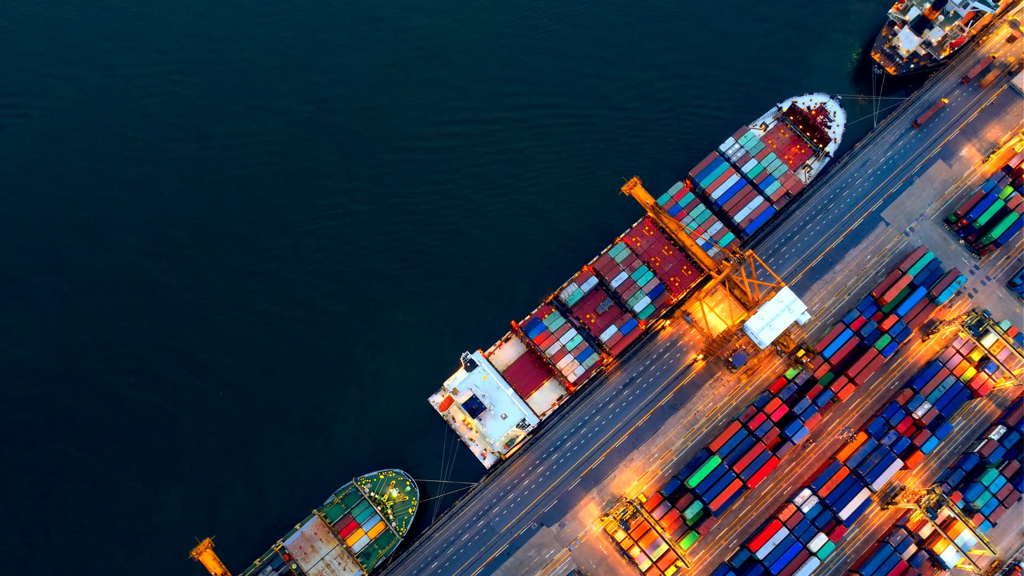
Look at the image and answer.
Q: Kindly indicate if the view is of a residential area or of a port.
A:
port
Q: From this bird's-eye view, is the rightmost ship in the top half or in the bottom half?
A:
top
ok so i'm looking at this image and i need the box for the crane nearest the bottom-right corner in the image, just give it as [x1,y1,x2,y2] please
[885,485,998,576]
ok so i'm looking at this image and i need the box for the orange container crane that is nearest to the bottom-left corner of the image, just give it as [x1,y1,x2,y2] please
[187,539,235,576]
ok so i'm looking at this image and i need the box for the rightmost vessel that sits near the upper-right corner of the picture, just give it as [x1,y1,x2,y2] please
[863,0,1011,85]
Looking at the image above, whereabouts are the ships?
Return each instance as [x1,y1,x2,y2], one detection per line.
[428,93,845,468]
[240,470,420,576]
[863,0,1011,85]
